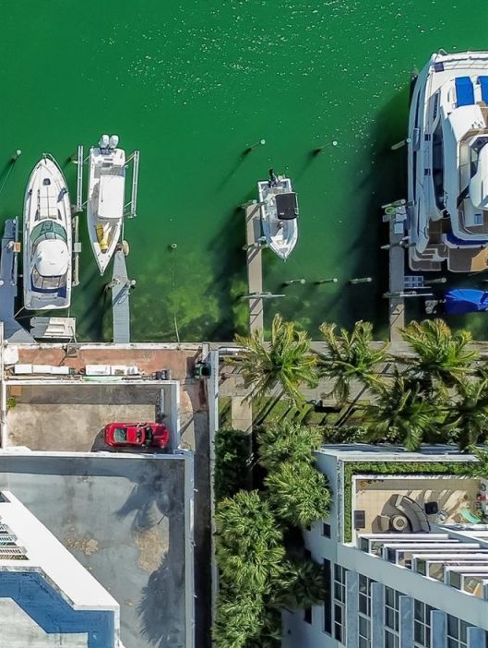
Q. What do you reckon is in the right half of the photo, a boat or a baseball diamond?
boat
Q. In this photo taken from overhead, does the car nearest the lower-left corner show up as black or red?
red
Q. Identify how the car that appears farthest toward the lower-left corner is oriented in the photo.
horizontally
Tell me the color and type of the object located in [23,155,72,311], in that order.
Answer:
white boat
